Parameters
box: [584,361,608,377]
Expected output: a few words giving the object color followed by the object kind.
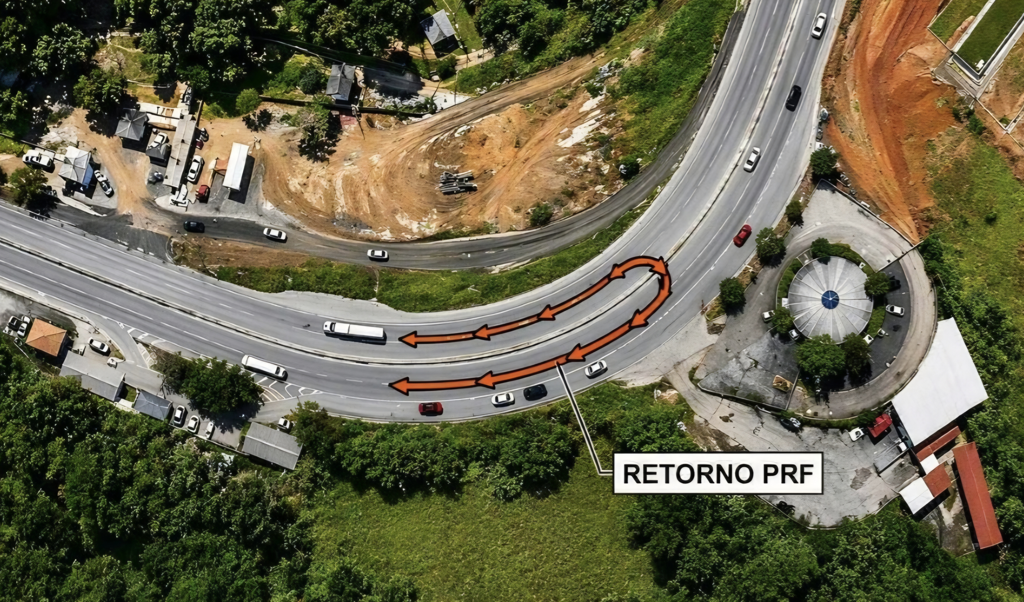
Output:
white car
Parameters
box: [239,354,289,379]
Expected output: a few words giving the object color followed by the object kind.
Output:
white bus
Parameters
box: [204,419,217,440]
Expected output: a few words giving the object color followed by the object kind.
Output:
white vehicle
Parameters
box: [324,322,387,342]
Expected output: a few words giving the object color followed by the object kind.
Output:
white vehicle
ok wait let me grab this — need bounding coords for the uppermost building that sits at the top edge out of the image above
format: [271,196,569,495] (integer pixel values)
[420,9,456,49]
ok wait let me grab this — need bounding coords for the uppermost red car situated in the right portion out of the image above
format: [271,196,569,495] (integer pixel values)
[733,224,750,247]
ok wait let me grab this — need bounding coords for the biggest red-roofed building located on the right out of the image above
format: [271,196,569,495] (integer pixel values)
[942,440,1003,549]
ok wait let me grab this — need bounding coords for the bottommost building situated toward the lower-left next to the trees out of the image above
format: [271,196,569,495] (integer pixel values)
[243,421,306,469]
